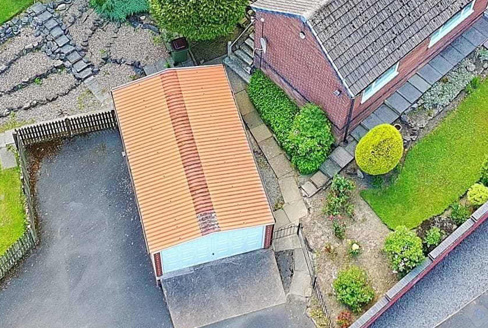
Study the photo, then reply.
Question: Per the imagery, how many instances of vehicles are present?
0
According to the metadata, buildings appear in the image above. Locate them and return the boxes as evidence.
[112,64,274,278]
[248,0,488,144]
